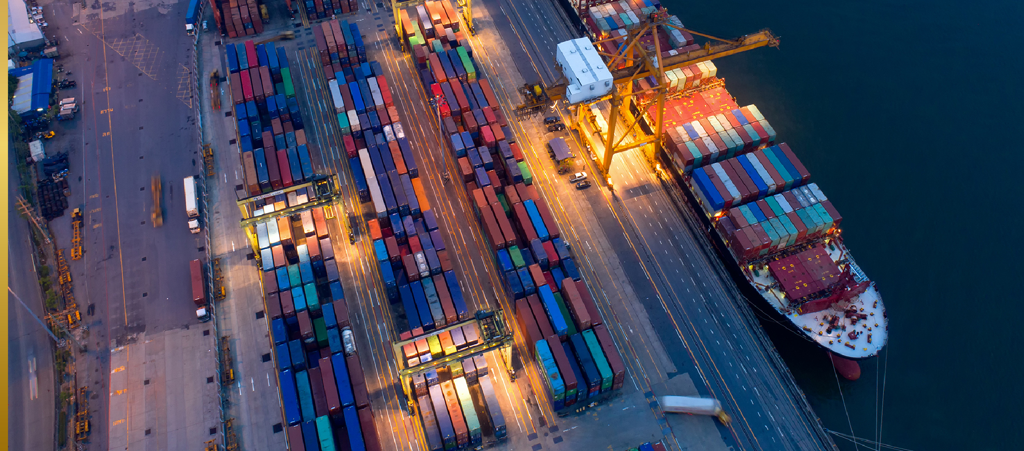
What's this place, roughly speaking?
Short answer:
port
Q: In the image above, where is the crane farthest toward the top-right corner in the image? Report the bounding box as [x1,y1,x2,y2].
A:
[507,7,784,181]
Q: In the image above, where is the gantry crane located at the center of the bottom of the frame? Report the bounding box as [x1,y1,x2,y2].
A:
[386,300,517,418]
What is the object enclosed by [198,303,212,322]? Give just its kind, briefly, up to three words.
vehicle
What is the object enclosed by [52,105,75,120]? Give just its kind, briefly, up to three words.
vehicle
